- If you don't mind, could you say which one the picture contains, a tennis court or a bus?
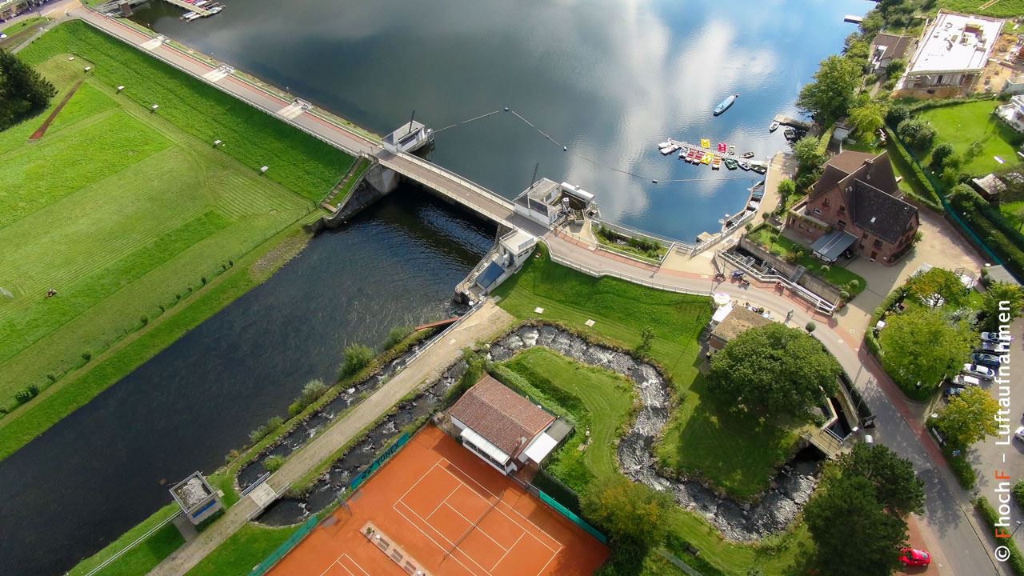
tennis court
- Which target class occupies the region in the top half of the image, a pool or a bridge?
bridge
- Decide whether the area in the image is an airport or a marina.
marina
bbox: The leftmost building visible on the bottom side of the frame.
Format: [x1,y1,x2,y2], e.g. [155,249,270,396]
[169,471,222,526]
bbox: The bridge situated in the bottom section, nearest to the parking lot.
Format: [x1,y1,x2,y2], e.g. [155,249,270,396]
[802,423,845,459]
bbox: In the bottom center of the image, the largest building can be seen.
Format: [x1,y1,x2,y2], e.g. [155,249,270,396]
[448,375,575,471]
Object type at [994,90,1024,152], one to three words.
house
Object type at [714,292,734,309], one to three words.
umbrella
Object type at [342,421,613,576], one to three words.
tennis court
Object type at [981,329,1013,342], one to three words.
vehicle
